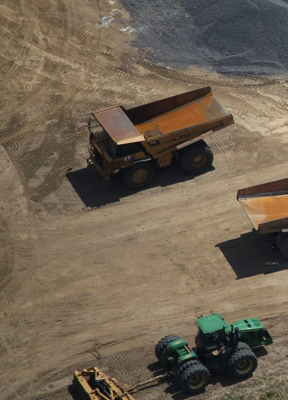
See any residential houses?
No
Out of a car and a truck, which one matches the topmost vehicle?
truck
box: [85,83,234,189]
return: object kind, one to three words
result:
truck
